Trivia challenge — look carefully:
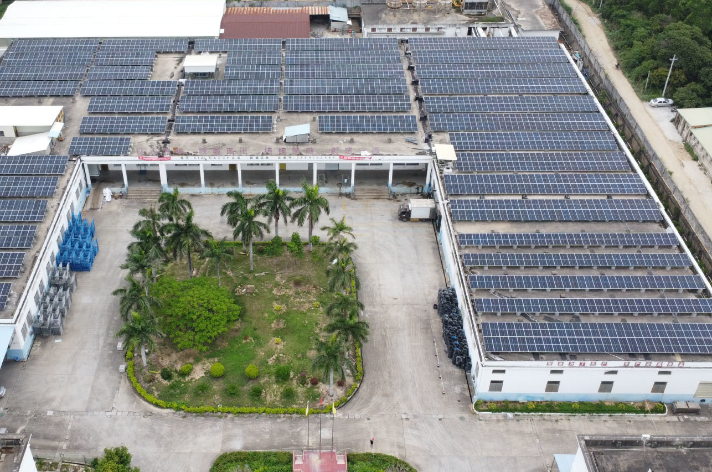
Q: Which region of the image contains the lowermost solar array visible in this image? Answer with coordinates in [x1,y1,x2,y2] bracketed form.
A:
[482,323,712,355]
